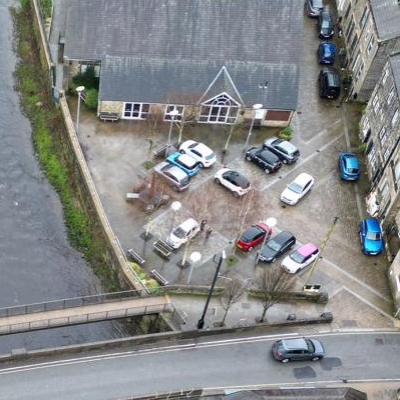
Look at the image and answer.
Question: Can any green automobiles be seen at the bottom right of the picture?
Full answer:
No, looking at the bottom right of the picture, there is no green automobile.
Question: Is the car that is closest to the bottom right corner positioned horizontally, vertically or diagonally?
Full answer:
The car that is closest to the bottom right corner is laid out horizontally.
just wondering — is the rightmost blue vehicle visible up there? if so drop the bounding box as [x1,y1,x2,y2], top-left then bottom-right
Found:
[358,213,389,252]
